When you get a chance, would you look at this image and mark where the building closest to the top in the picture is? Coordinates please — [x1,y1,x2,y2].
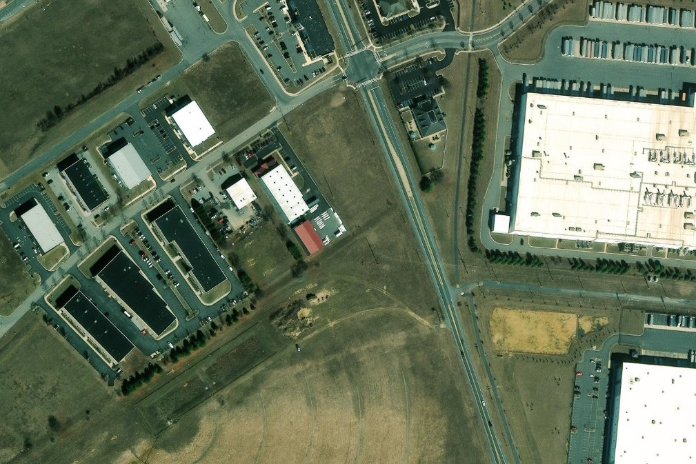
[375,0,409,18]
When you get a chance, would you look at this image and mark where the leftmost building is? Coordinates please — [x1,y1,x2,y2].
[17,205,64,254]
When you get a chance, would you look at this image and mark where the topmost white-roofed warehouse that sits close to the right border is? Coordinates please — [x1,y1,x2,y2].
[509,93,696,250]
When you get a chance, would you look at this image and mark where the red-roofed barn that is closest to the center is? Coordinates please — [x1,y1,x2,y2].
[292,221,323,255]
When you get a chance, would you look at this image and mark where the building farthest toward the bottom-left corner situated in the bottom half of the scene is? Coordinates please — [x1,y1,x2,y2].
[60,291,135,366]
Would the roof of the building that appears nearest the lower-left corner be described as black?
Yes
